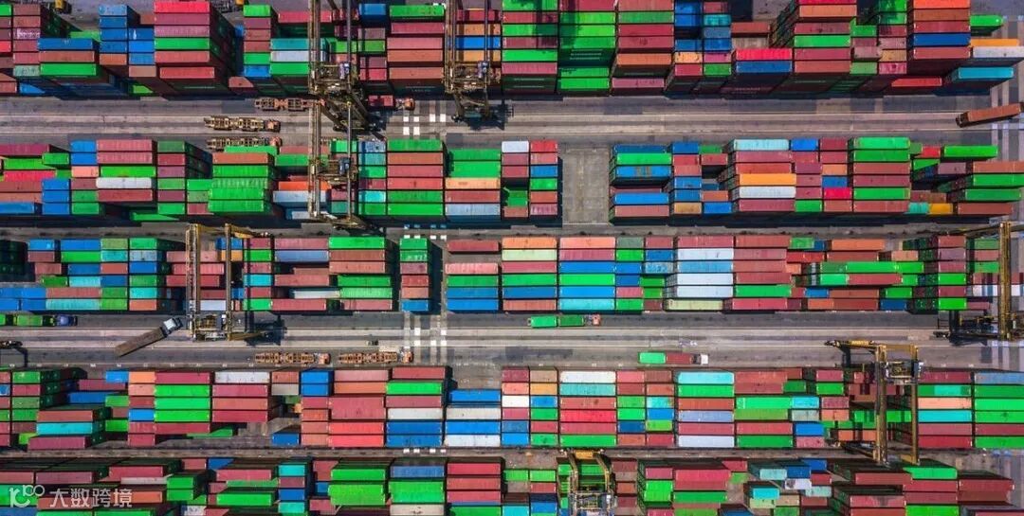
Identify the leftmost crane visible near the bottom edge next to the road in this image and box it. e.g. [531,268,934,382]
[561,447,619,516]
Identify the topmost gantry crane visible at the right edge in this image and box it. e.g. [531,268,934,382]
[930,217,1024,345]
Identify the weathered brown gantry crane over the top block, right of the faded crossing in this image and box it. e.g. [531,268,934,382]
[443,0,497,124]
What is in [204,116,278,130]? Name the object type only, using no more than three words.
vehicle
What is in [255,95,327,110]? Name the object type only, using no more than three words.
vehicle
